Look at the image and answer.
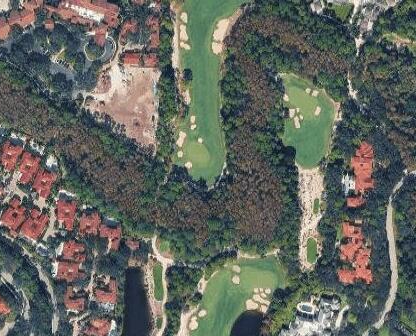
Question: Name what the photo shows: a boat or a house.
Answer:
house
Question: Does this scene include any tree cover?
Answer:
Yes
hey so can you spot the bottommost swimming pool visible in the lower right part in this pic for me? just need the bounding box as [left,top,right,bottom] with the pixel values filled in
[296,303,313,315]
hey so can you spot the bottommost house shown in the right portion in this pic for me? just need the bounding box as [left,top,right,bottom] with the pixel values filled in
[276,295,342,336]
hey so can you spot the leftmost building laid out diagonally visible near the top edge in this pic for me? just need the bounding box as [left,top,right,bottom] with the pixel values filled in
[0,0,43,35]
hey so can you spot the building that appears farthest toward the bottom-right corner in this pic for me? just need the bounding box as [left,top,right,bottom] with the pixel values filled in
[337,267,374,285]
